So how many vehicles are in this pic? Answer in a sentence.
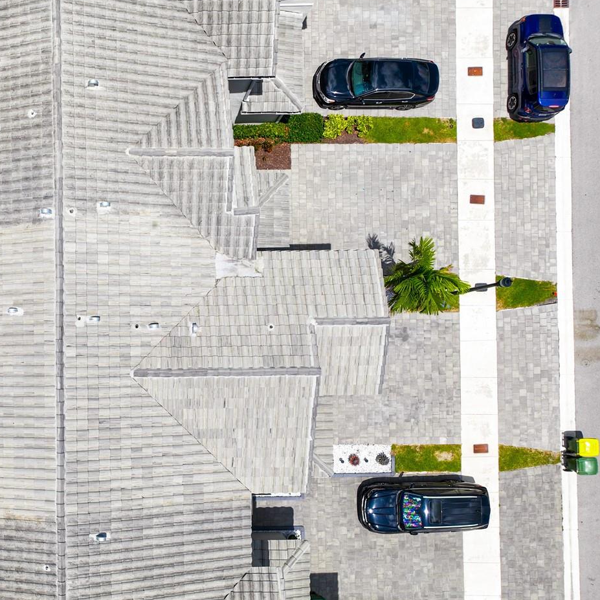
The number of vehicles here is 3.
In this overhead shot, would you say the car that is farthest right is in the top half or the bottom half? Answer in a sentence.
Seen from above, the car that is farthest right lies in the top half of the view.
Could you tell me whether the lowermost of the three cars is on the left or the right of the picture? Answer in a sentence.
The lowermost of the three cars appears in the right half of the scene.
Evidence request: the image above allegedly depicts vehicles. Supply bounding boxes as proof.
[313,59,438,116]
[357,476,490,533]
[505,13,572,122]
